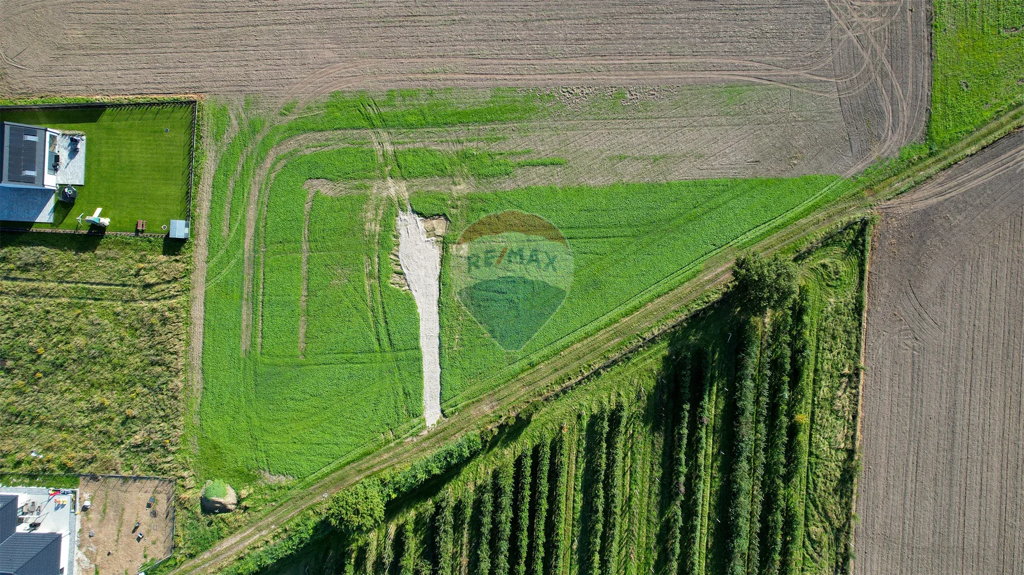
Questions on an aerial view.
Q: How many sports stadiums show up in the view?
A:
none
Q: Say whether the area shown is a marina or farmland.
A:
farmland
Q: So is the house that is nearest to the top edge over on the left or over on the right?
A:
left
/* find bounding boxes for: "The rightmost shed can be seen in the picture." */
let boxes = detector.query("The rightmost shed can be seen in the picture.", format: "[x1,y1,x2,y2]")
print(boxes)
[170,219,189,237]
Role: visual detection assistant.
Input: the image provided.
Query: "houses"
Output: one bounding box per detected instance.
[0,121,58,189]
[0,491,72,575]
